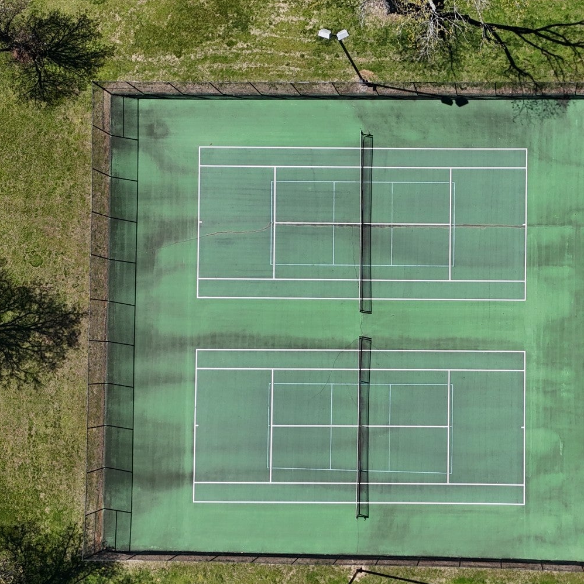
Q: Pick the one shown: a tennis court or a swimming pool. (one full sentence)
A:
I can see a tennis court in this picture.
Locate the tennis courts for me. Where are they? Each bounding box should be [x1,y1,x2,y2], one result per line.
[193,344,525,504]
[197,146,528,301]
